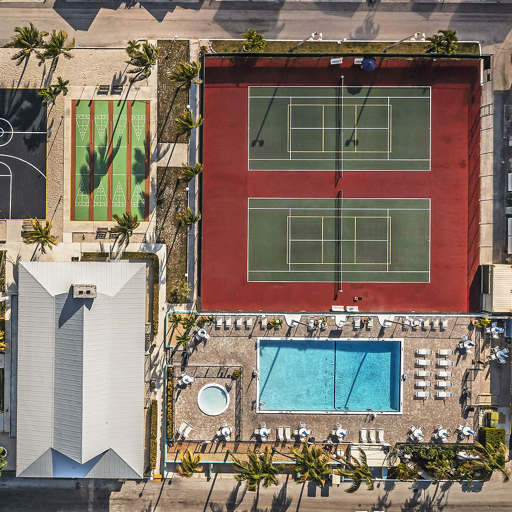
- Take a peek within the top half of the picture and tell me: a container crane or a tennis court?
tennis court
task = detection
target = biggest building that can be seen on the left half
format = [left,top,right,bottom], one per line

[11,261,152,479]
